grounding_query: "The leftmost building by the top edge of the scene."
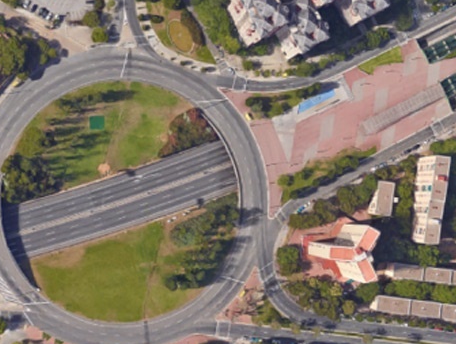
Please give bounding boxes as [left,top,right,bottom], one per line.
[228,0,287,53]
